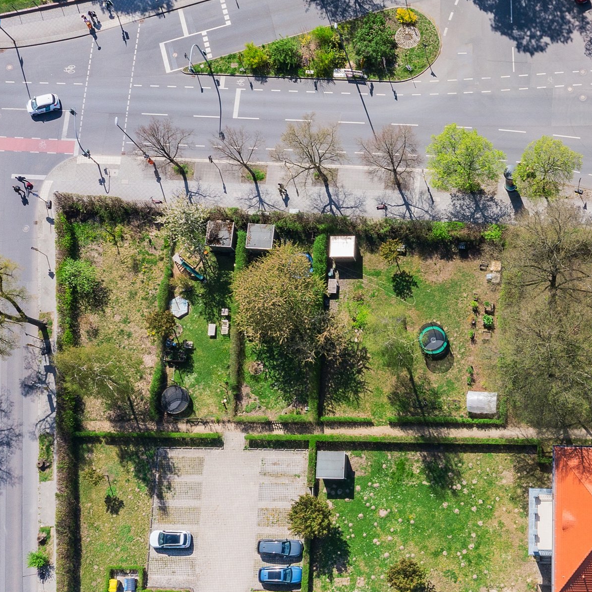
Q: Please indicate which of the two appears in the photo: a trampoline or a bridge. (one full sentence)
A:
Of the two, only a trampoline appears.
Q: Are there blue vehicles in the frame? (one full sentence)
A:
Yes, I can see a blue vehicle in this picture.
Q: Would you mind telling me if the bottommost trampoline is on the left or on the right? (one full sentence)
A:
You can find the bottommost trampoline on the left side of the picture.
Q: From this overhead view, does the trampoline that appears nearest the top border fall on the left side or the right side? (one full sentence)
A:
The trampoline that appears nearest the top border is on the right side of the image.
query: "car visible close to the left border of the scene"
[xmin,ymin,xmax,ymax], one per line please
[28,95,61,116]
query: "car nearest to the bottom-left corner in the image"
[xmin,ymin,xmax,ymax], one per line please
[149,529,191,550]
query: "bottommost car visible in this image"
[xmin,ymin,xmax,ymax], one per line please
[258,565,302,588]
